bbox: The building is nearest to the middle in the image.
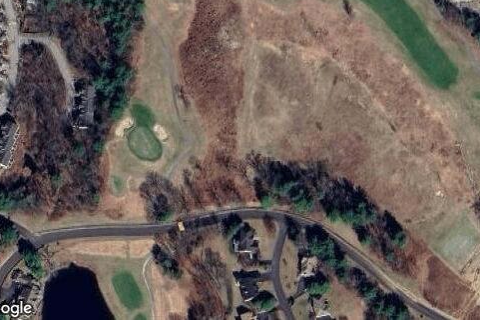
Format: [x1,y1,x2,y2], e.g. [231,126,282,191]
[236,223,260,254]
